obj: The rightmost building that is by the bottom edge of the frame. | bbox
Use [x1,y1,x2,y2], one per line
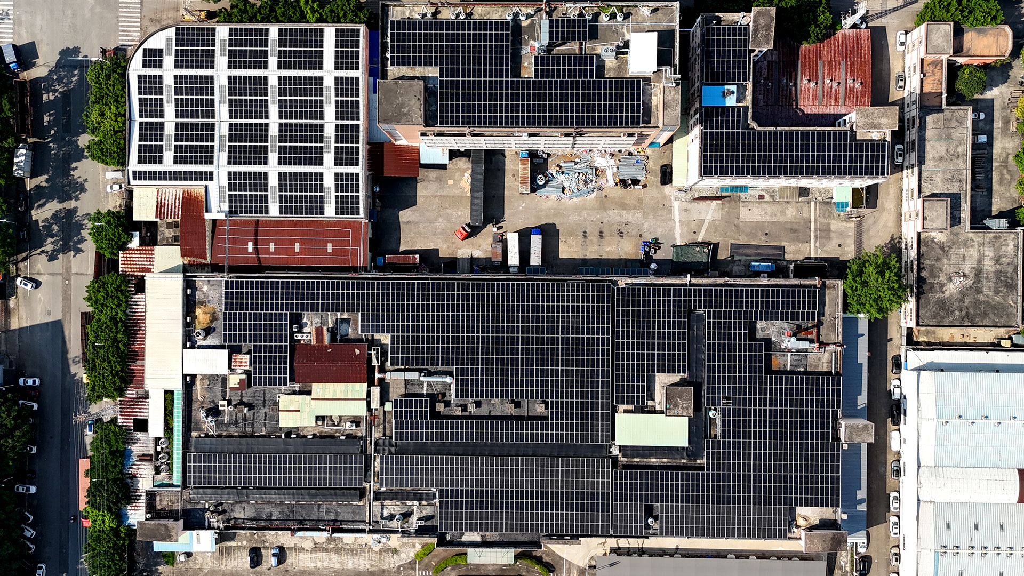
[900,351,1024,576]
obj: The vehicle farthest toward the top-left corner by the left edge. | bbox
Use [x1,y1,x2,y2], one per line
[1,41,24,73]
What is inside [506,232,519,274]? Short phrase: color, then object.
white vehicle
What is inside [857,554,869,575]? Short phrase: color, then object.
black vehicle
